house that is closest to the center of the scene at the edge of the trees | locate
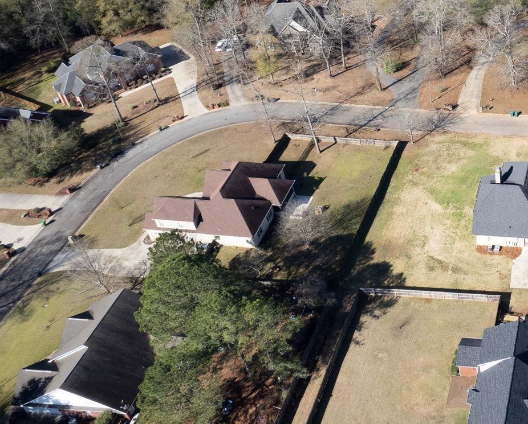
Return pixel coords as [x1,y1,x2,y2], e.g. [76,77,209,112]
[143,161,295,247]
